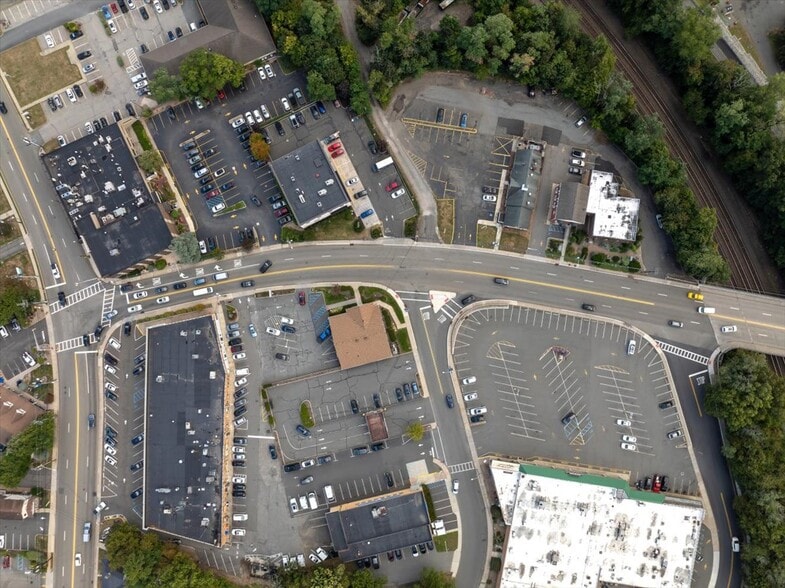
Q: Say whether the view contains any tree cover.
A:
Yes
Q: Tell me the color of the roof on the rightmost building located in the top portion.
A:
white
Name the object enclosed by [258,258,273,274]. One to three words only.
vehicle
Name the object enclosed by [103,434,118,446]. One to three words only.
vehicle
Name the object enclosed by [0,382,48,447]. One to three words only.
building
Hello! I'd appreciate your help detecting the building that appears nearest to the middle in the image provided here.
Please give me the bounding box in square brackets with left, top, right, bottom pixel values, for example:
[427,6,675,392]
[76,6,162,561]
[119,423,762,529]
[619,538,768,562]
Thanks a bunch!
[329,303,392,370]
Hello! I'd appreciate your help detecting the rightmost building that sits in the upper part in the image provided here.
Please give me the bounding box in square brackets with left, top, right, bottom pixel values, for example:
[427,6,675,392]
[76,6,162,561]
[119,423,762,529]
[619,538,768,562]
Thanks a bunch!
[585,170,640,242]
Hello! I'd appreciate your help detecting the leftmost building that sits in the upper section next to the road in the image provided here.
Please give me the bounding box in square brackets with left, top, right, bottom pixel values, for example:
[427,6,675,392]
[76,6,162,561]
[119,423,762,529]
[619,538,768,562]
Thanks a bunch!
[41,122,179,278]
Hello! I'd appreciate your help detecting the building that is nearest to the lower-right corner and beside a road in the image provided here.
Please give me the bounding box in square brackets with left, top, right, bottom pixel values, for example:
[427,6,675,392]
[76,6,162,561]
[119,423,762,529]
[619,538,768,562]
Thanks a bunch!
[488,460,703,588]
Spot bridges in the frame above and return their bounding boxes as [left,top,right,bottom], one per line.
[690,280,785,356]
